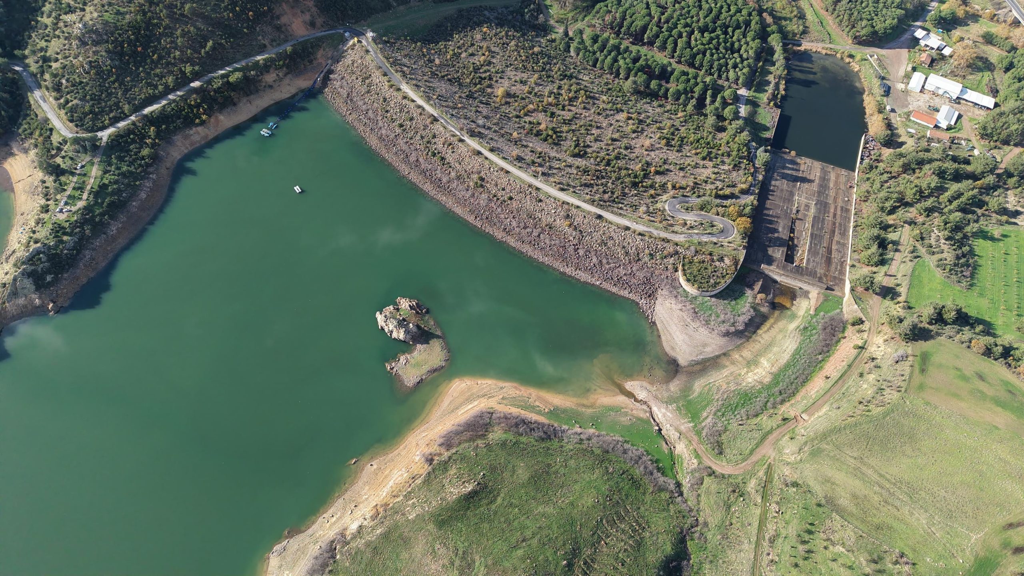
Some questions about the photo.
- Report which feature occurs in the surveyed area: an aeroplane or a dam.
dam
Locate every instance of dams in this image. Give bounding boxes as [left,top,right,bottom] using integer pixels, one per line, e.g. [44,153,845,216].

[321,20,752,328]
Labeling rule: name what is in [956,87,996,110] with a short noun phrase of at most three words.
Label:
shed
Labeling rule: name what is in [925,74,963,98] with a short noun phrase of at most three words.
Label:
barn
